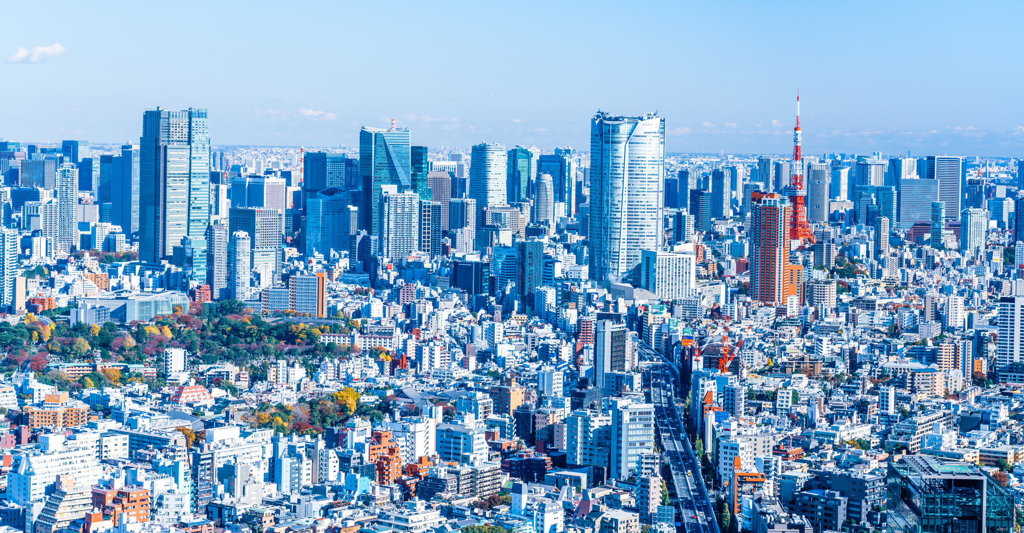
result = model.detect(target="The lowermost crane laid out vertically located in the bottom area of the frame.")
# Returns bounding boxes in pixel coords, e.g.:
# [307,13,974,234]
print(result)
[709,315,733,373]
